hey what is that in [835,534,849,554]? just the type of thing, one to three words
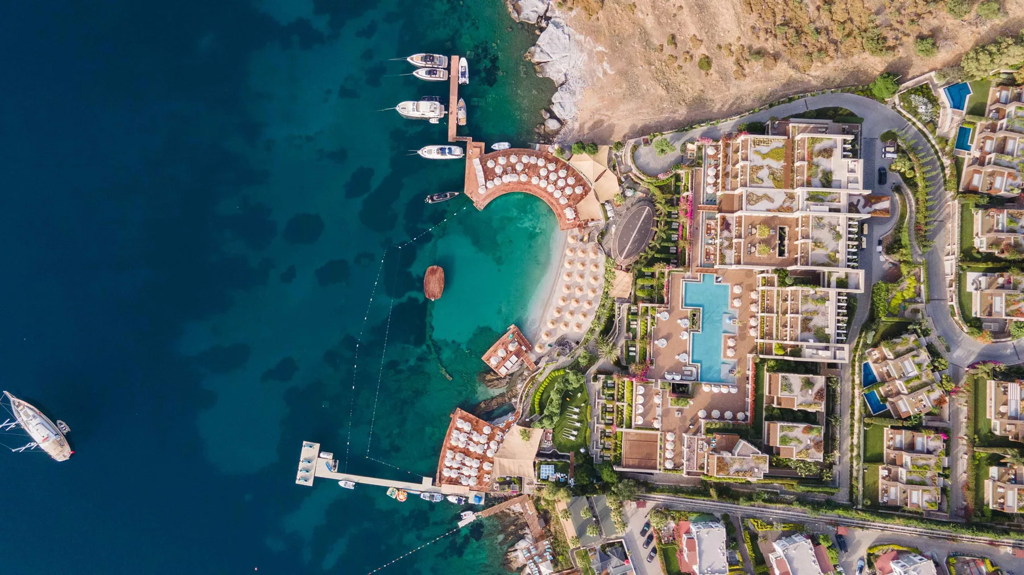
vehicle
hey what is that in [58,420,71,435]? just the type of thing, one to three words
boat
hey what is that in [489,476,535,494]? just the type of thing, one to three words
building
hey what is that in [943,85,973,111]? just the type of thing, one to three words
swimming pool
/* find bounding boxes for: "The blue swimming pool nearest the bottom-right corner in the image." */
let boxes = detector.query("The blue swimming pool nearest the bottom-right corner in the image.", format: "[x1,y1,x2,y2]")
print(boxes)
[862,390,889,415]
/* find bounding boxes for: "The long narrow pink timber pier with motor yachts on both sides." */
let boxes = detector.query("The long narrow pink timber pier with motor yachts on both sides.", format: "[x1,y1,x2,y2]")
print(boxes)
[449,55,472,142]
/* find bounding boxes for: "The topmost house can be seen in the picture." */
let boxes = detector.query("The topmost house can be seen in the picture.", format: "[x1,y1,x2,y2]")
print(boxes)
[983,86,1024,123]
